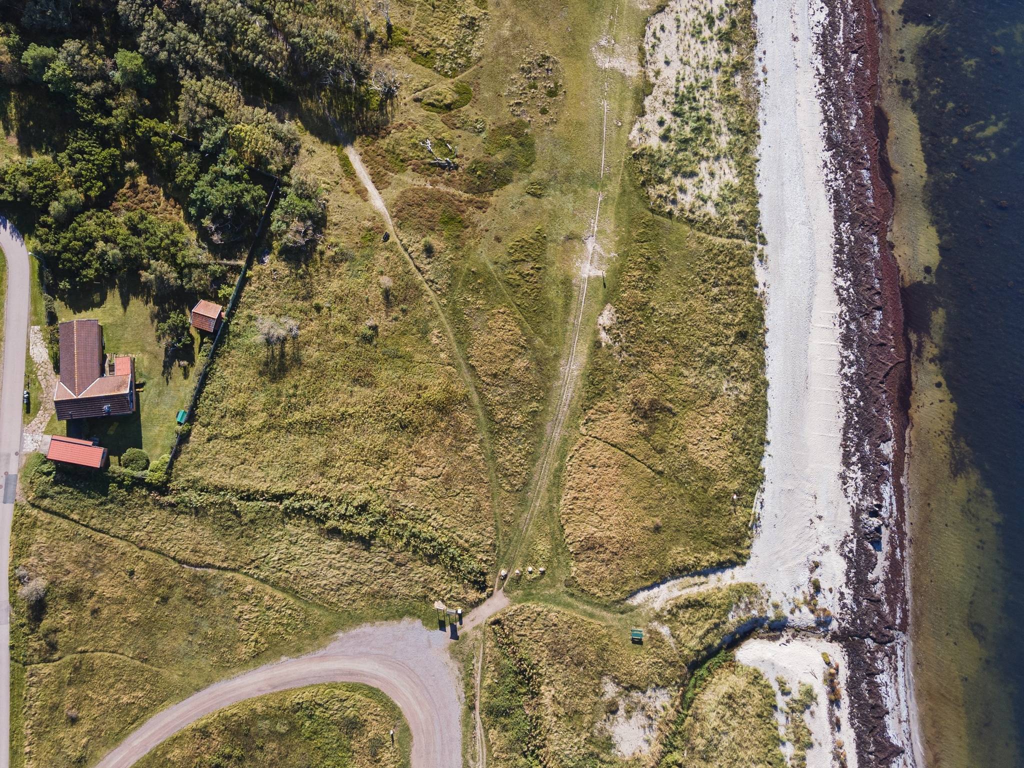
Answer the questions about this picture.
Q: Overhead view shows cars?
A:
No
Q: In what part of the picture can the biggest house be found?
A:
left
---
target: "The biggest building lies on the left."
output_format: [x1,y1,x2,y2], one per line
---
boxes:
[53,319,140,420]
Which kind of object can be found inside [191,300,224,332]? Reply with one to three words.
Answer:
shed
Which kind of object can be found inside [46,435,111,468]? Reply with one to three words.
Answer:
building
